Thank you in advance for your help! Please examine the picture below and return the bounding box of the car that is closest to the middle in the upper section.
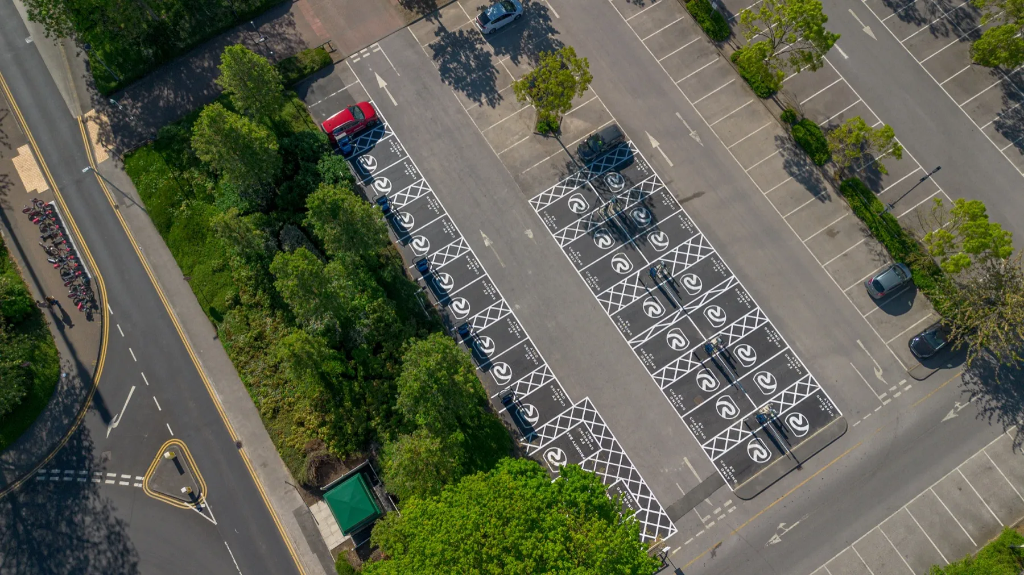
[575,122,629,165]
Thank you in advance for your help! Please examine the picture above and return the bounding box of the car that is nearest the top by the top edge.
[476,0,525,36]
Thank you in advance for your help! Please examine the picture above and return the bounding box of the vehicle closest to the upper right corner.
[859,261,913,304]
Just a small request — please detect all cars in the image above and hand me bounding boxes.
[321,102,378,143]
[859,261,913,304]
[575,122,629,165]
[476,0,525,36]
[902,317,962,363]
